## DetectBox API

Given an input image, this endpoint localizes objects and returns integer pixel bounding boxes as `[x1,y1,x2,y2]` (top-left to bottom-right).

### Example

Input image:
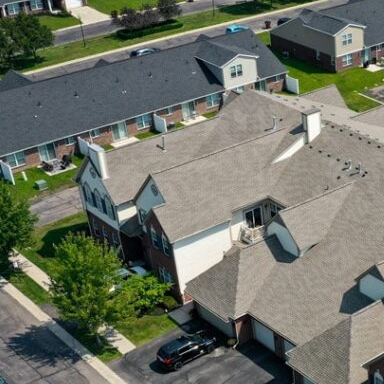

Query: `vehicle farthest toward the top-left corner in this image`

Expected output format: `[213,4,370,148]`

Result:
[128,42,160,55]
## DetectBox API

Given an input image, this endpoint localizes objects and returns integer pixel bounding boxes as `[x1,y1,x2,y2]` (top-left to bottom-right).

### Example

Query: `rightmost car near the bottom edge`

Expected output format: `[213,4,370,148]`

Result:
[154,334,216,370]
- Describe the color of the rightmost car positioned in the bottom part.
black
